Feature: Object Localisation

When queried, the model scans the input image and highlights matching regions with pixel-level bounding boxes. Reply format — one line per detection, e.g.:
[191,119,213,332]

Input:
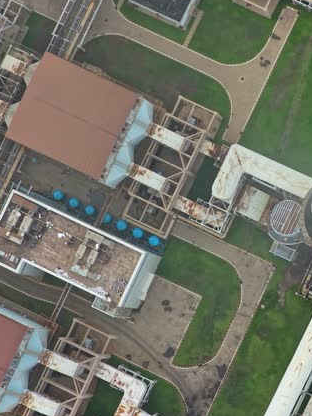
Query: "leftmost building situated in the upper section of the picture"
[2,52,160,191]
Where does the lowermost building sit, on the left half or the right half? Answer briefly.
left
